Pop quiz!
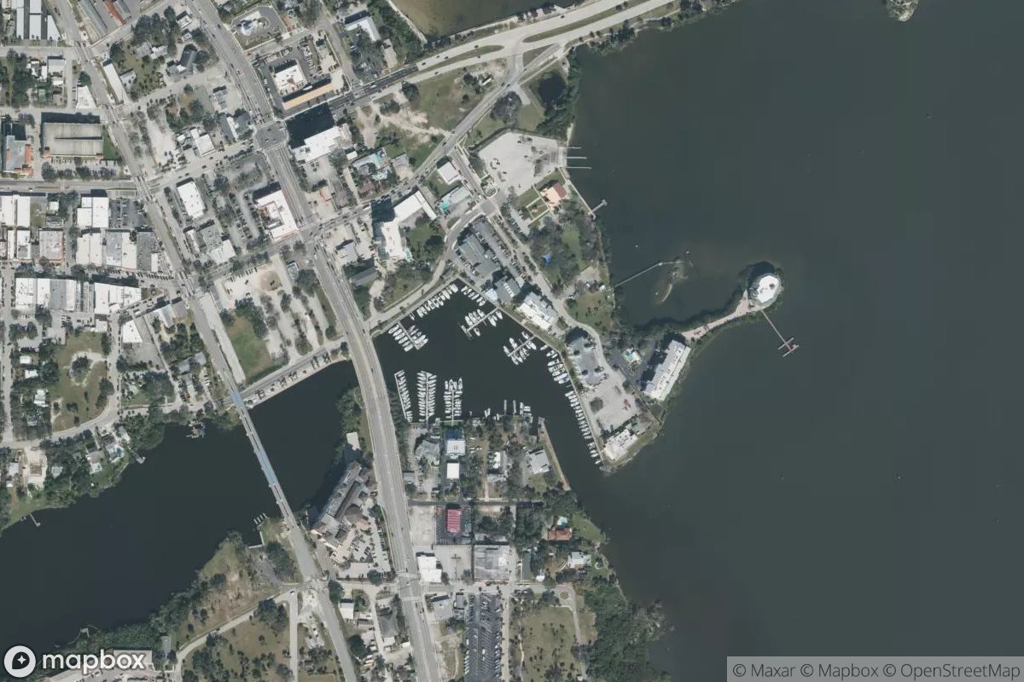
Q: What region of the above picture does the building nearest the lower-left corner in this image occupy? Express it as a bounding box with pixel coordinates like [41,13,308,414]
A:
[113,650,159,672]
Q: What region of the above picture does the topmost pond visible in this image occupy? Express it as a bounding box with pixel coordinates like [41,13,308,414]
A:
[394,0,571,41]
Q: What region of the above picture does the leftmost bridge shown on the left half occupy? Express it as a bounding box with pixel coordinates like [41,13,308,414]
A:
[227,387,293,518]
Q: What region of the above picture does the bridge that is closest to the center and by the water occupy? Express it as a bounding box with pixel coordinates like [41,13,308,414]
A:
[346,336,386,392]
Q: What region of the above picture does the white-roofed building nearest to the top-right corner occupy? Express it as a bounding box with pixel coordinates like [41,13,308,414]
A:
[757,275,781,303]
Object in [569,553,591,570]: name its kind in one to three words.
house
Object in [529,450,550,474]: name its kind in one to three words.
house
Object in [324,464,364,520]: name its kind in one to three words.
building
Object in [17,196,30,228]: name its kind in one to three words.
building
